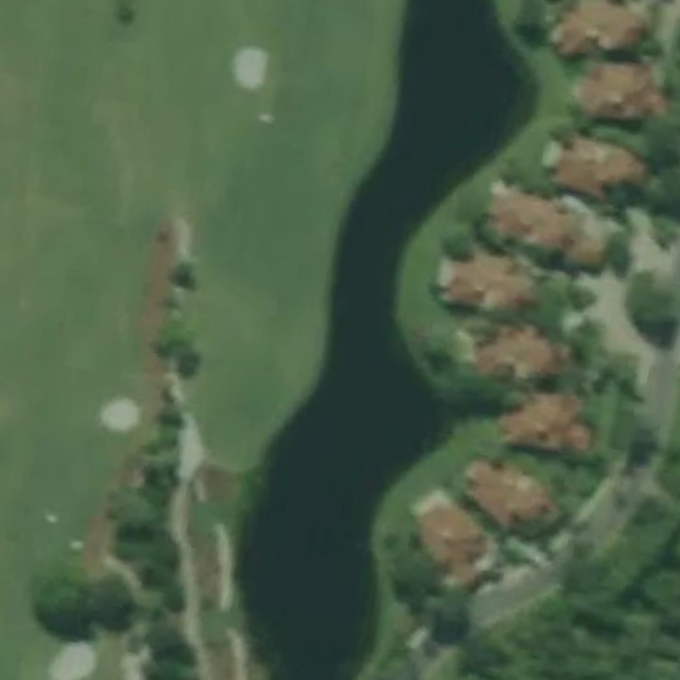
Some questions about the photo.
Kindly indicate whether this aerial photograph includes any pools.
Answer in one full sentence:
No, the picture doesn't show any pool.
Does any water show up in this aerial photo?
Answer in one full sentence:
Yes, there's water in this view.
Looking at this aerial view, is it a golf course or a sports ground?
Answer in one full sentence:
What you see here is a golf course.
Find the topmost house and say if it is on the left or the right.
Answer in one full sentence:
The topmost house appears in the right half of the scene.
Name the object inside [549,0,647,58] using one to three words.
house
